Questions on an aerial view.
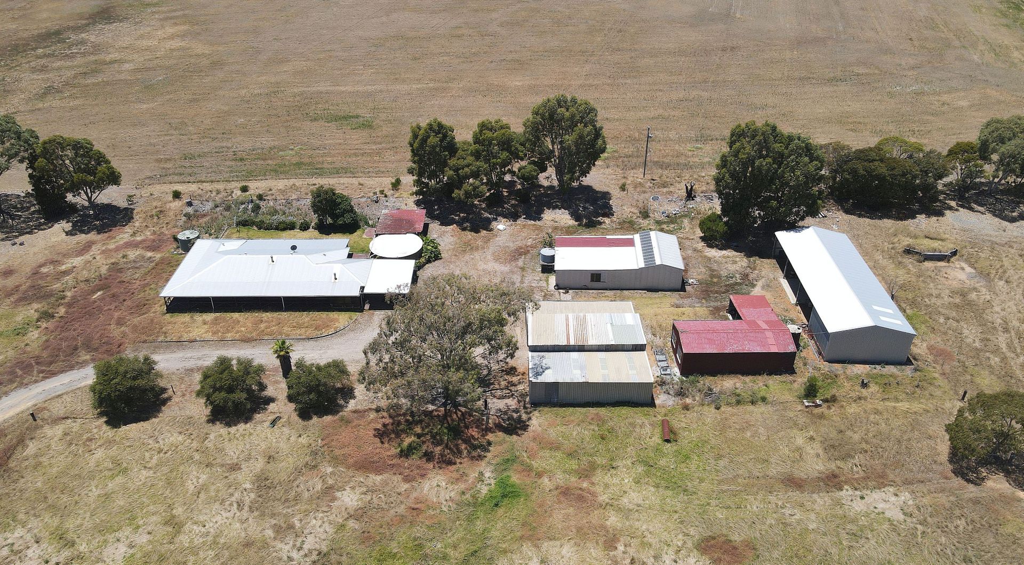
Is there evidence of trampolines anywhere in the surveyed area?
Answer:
No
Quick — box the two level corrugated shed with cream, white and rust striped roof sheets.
[526,301,655,404]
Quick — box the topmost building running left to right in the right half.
[554,229,684,289]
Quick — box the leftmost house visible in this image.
[158,231,374,312]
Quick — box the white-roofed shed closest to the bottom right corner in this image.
[771,226,917,363]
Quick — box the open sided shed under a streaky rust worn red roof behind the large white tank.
[376,209,426,236]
